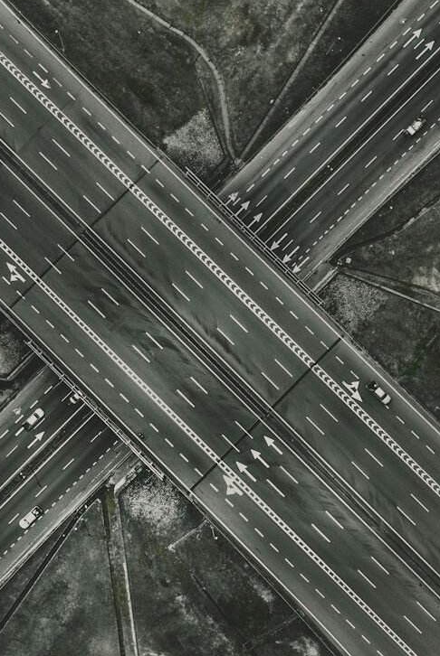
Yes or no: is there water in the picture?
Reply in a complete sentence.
No, the scene doesn't show any water.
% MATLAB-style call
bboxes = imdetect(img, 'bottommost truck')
[17,505,45,532]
